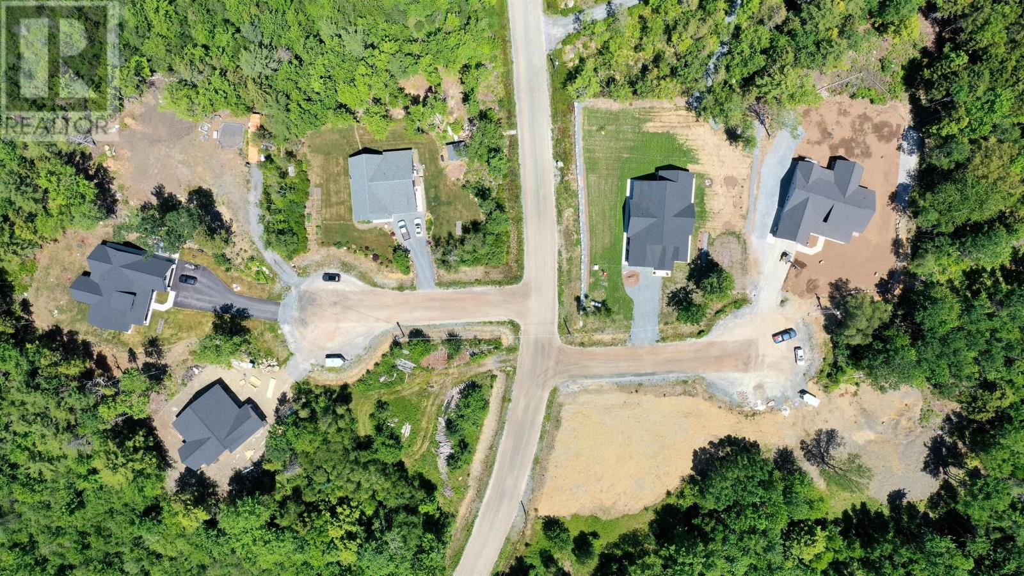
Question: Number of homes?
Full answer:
The picture shows 5 homes.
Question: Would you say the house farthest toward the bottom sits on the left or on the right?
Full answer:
You can find the house farthest toward the bottom on the left side of the picture.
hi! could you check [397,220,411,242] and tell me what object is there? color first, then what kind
white vehicle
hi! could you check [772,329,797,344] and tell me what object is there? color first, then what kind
blue vehicle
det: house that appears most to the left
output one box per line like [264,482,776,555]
[70,244,176,332]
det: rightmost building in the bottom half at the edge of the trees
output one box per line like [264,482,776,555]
[174,384,265,469]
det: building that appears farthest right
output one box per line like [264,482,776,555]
[773,159,875,247]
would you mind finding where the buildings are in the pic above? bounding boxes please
[773,159,875,247]
[447,142,465,160]
[348,150,416,223]
[70,244,176,332]
[627,170,696,275]
[174,384,265,469]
